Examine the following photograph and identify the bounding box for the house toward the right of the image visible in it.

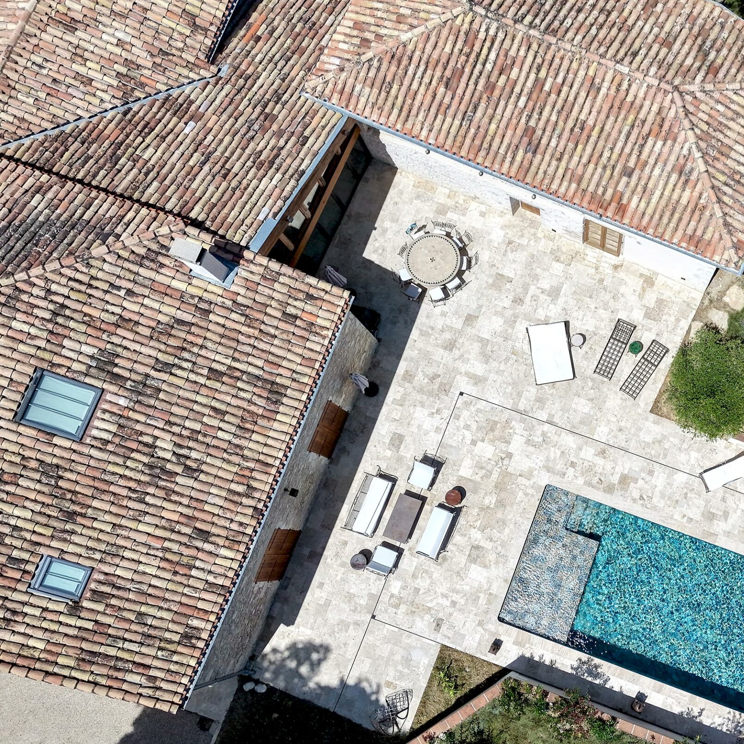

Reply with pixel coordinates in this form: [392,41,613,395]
[300,0,744,297]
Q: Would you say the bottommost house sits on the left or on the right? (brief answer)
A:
left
